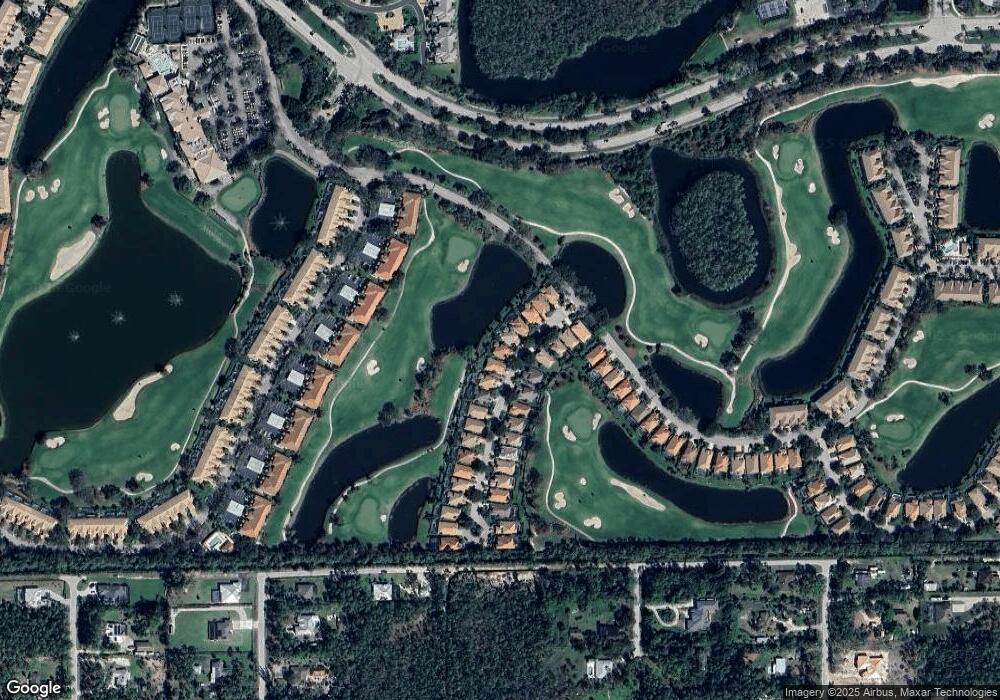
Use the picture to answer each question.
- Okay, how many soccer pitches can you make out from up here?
0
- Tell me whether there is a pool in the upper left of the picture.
Yes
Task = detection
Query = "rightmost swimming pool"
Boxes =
[944,235,969,257]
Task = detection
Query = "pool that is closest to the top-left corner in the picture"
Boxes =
[146,45,182,76]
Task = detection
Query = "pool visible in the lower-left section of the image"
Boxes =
[202,532,232,552]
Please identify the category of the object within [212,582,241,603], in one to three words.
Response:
house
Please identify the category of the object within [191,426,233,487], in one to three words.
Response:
building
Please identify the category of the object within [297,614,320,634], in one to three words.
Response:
shed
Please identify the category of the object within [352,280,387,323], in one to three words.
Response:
building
